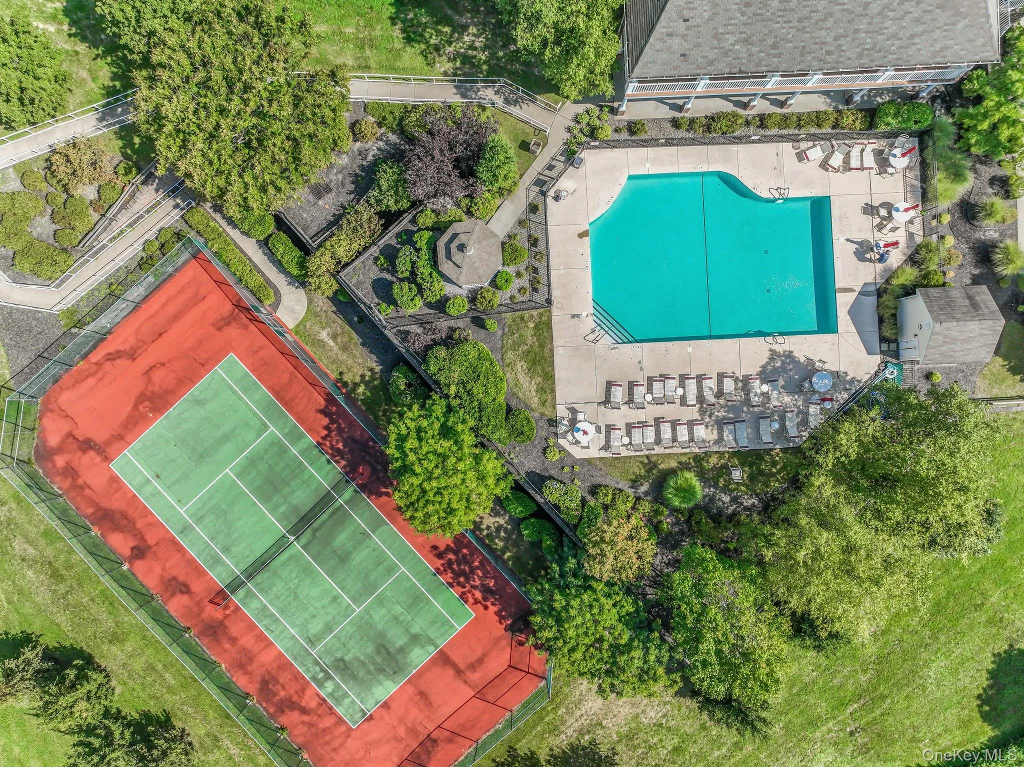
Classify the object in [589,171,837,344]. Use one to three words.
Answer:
swimming pool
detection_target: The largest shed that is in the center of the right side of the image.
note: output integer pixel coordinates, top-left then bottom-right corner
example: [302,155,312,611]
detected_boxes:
[898,284,1003,365]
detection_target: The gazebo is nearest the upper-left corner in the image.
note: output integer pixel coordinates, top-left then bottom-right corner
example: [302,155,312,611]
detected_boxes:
[437,221,502,289]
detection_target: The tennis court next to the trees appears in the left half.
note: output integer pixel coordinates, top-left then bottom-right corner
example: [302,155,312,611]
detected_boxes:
[31,252,548,767]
